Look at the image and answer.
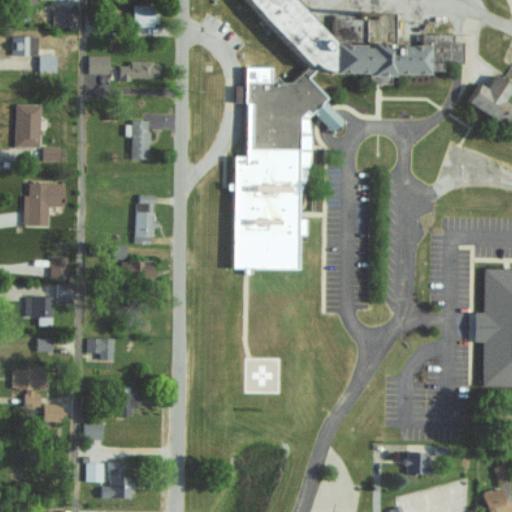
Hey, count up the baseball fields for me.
zero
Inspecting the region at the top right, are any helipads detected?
No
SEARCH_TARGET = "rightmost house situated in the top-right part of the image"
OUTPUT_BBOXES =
[474,70,512,124]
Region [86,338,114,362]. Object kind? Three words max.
house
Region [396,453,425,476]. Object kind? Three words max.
house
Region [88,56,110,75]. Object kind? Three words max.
building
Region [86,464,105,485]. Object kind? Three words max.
building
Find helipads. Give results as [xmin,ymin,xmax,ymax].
[244,357,281,394]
